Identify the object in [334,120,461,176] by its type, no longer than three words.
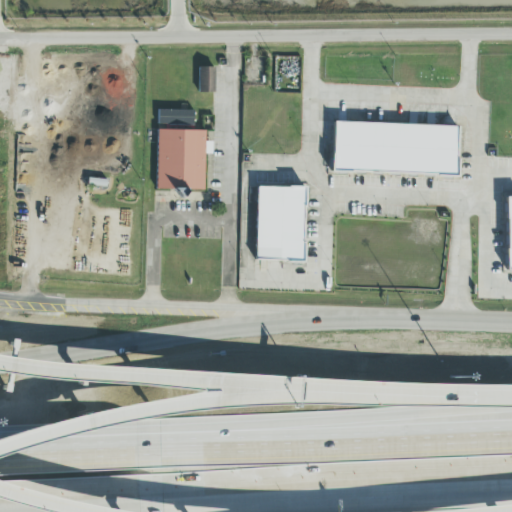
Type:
building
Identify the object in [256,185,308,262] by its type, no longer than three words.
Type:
building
